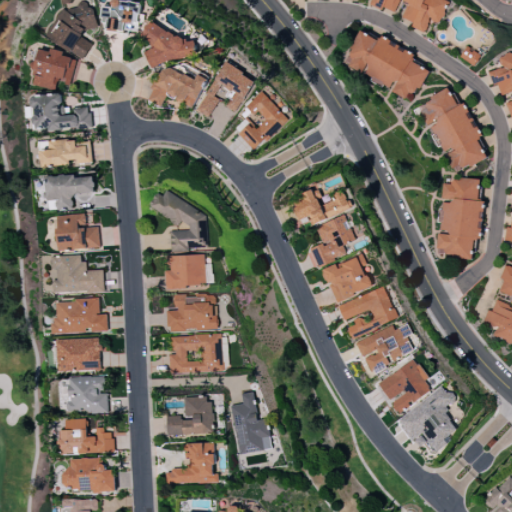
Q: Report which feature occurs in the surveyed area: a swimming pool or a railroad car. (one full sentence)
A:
Of the two, only a swimming pool appears.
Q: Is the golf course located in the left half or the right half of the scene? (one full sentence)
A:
It is on the left.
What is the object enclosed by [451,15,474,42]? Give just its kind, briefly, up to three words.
swimming pool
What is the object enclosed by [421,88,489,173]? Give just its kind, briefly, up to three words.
building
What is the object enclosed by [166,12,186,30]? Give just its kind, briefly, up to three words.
swimming pool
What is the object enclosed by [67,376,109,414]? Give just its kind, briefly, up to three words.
house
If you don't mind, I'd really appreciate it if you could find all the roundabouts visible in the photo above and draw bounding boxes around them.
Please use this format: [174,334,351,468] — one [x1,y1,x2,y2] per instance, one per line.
[94,62,136,104]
